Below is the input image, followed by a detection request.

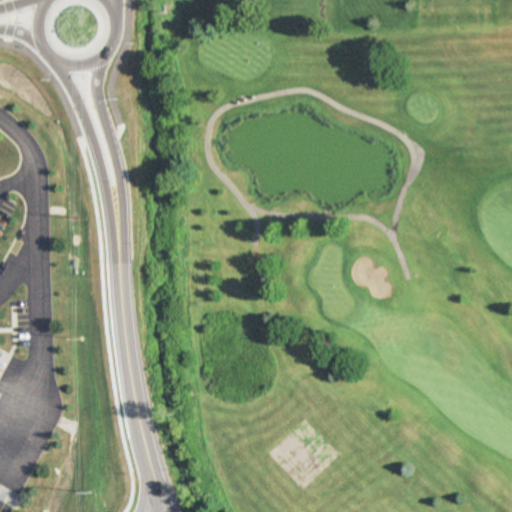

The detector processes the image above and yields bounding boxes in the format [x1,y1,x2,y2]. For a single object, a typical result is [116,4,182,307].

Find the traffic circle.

[0,0,123,187]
